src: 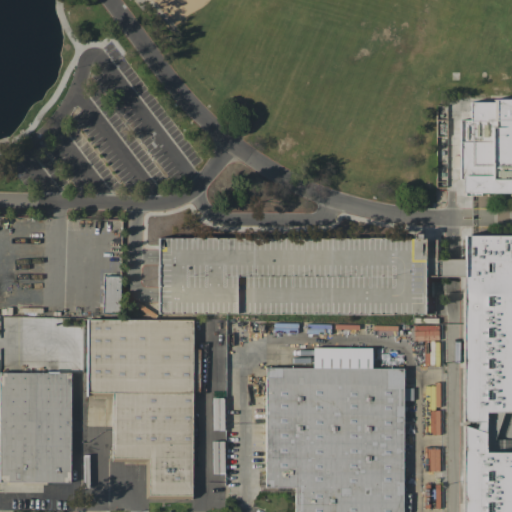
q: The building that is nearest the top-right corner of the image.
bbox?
[459,99,512,198]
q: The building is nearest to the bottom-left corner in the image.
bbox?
[0,373,73,485]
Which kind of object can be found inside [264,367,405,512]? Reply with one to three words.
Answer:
warehouse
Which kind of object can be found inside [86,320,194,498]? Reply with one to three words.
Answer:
building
